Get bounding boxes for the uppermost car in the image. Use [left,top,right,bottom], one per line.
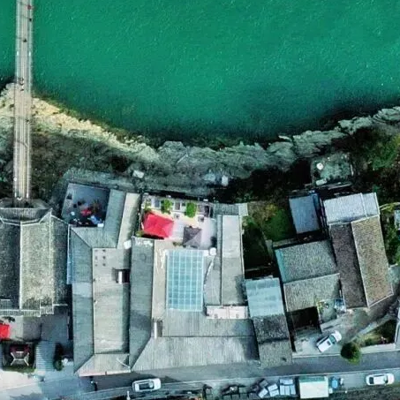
[316,331,343,354]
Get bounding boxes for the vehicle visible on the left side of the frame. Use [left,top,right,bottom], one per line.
[133,378,161,393]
